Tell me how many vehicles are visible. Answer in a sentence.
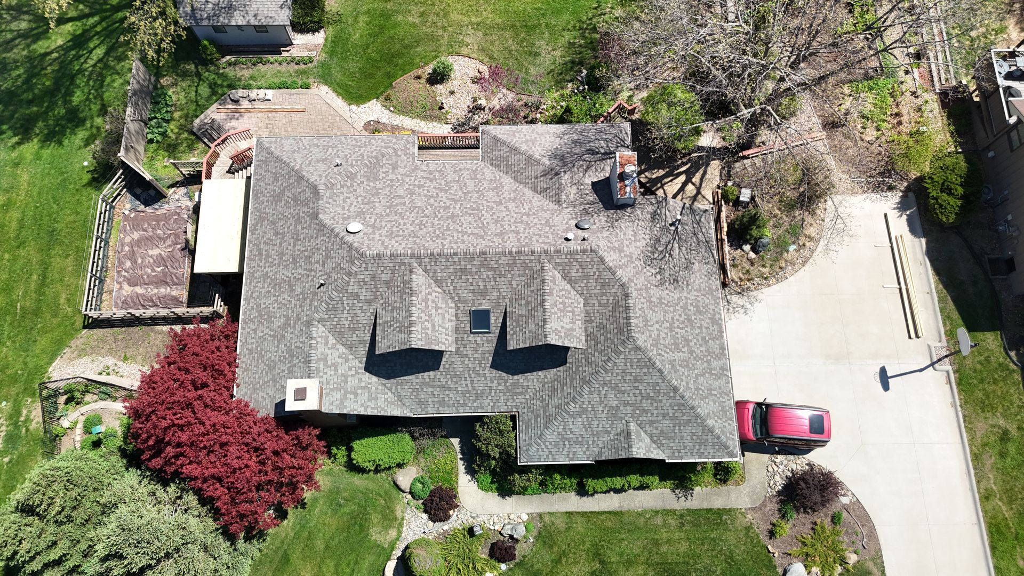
I count just 1 vehicle.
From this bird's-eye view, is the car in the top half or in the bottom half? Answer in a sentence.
The bottom half of the photo is where the car is.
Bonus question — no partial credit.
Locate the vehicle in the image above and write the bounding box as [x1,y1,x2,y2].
[736,395,833,450]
